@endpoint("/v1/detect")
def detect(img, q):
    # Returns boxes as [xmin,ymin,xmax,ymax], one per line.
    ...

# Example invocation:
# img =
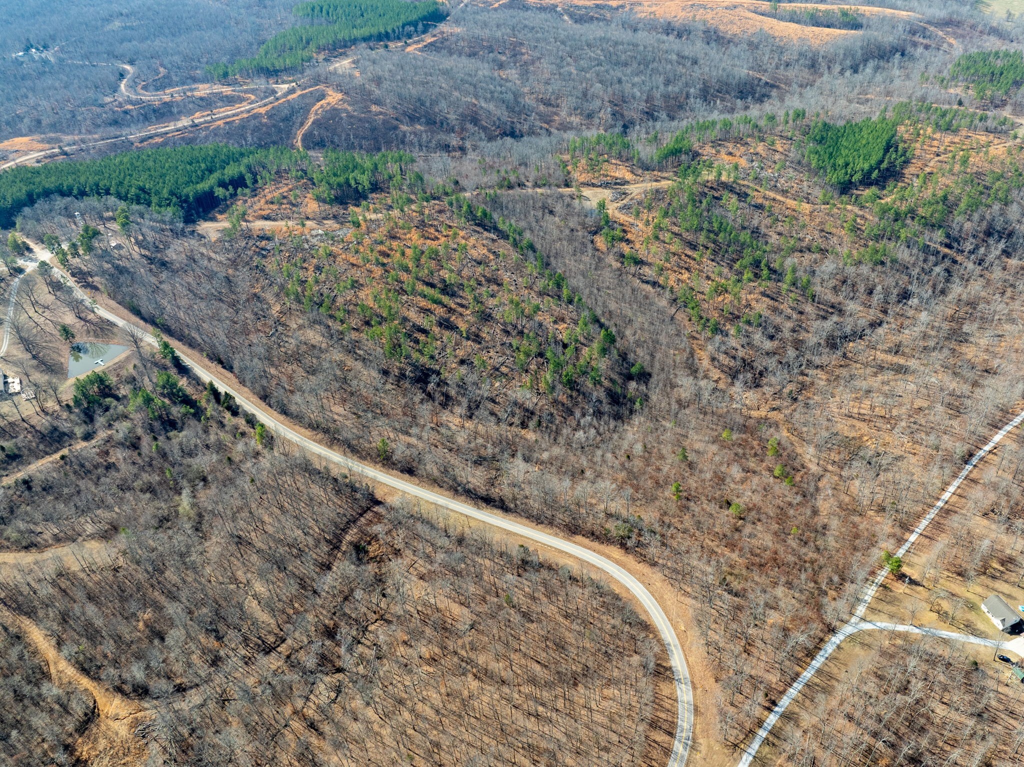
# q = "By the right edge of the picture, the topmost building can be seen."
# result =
[980,598,1024,631]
